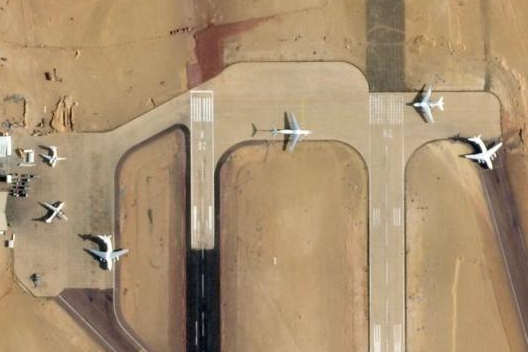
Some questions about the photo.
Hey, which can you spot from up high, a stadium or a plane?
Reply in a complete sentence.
The image shows a plane.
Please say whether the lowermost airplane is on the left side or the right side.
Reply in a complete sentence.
The lowermost airplane is on the left side of the image.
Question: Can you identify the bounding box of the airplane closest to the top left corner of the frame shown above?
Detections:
[41,147,66,167]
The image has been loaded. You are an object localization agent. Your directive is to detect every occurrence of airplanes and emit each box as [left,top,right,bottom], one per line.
[464,134,501,170]
[41,147,66,167]
[89,236,129,271]
[413,85,444,124]
[274,112,311,152]
[45,200,67,225]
